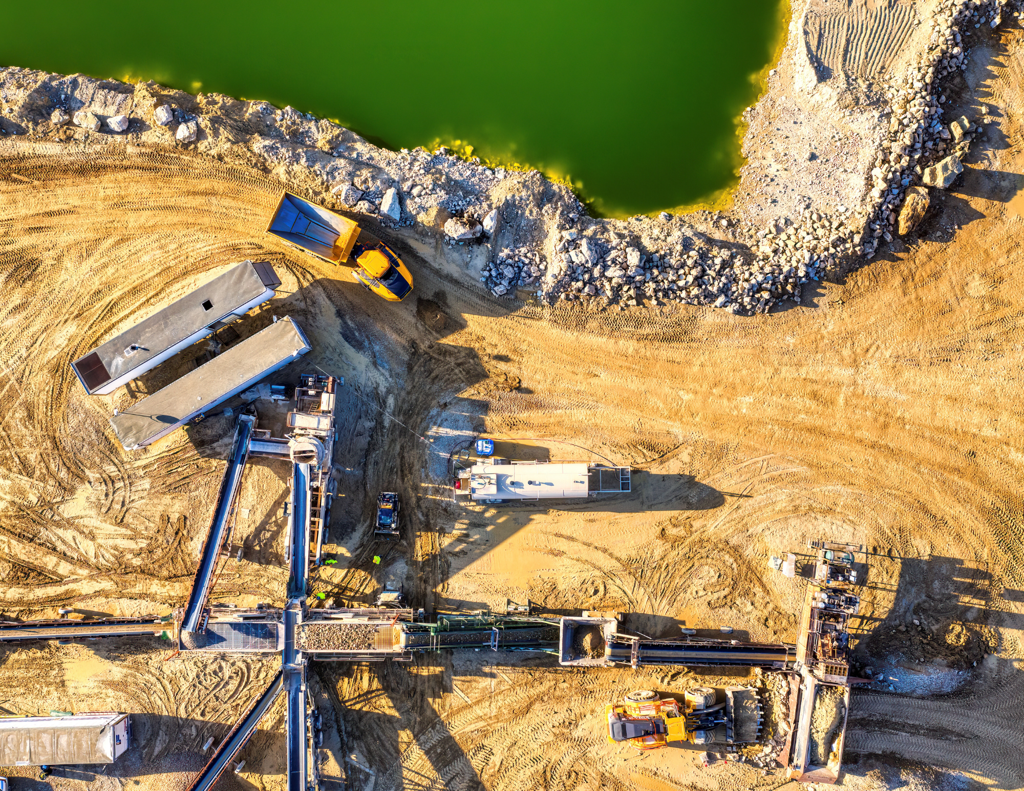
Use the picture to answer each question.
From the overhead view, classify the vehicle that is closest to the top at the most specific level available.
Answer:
truck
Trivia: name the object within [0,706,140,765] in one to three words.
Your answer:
trailer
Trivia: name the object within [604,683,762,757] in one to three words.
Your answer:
work vehicle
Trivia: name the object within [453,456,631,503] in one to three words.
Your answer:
trailer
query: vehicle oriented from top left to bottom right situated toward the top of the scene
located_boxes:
[262,189,413,303]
